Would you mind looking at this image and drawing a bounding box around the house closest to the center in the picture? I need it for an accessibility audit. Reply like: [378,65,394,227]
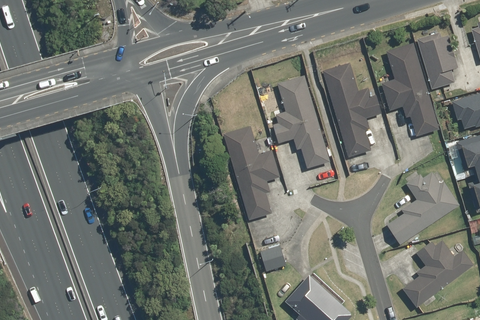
[224,127,280,220]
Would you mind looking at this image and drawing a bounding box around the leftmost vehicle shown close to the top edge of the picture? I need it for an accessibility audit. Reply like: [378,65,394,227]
[0,4,14,28]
